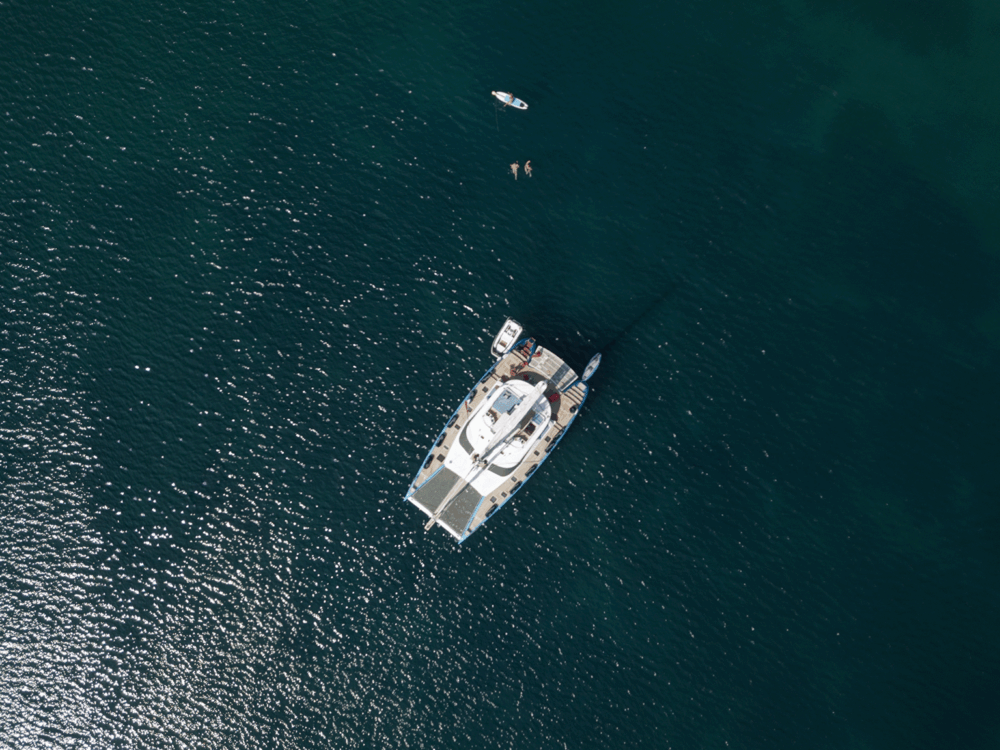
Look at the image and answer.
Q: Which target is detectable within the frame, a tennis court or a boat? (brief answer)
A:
boat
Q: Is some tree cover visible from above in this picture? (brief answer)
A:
No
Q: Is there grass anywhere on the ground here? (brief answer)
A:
No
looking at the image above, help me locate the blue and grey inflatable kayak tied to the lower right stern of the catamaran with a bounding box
[581,353,601,383]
